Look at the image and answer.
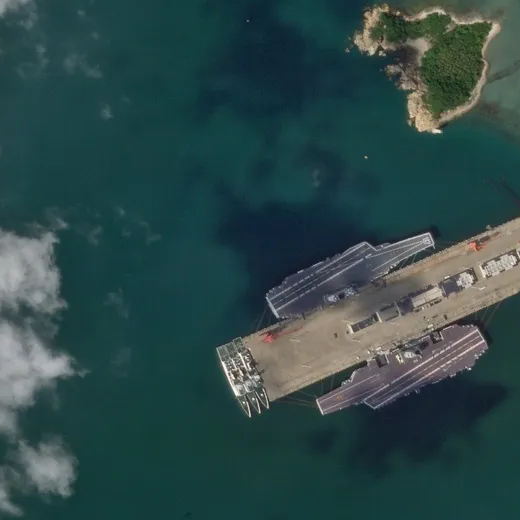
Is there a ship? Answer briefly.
Yes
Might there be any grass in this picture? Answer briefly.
No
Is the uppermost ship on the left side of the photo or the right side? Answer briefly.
right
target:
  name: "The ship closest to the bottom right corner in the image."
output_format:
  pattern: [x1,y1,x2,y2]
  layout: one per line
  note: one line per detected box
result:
[317,324,488,415]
